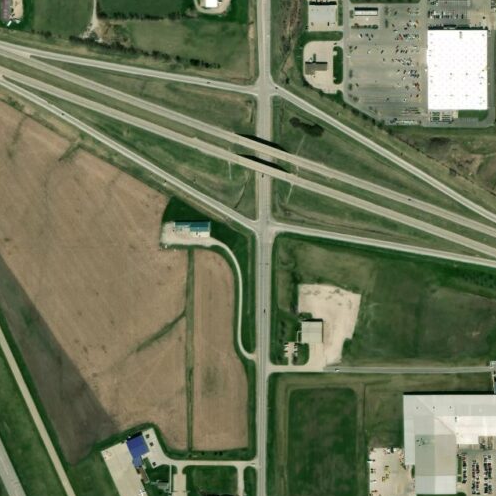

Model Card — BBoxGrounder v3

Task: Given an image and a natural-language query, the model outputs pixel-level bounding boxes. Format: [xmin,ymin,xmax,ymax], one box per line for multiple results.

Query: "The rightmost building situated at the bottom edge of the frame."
[403,394,496,494]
